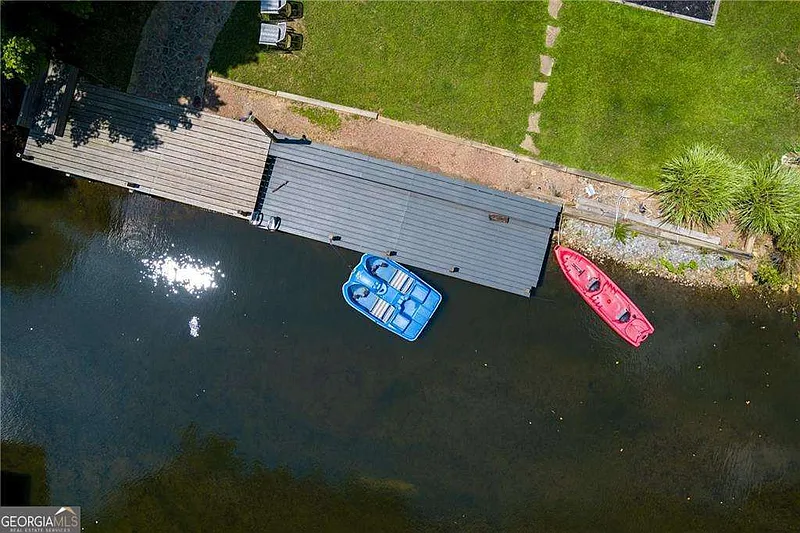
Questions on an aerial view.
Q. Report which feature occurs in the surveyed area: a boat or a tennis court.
boat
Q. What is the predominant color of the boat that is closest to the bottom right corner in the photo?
red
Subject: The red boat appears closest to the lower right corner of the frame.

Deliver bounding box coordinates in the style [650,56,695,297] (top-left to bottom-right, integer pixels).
[555,246,653,345]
